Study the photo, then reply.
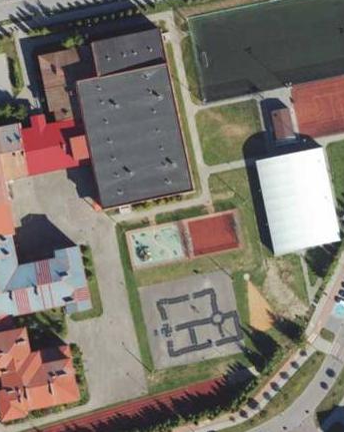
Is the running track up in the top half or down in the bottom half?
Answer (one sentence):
The running track is in the bottom half of the image.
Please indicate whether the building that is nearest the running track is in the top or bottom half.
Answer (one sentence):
The bottom half of the photo is where the building that is nearest the running track is.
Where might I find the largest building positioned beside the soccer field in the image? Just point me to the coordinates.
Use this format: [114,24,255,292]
[78,64,192,216]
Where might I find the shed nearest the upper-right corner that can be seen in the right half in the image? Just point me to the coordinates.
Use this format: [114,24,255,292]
[271,107,295,141]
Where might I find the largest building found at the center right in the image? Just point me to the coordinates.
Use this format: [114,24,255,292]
[258,148,341,256]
